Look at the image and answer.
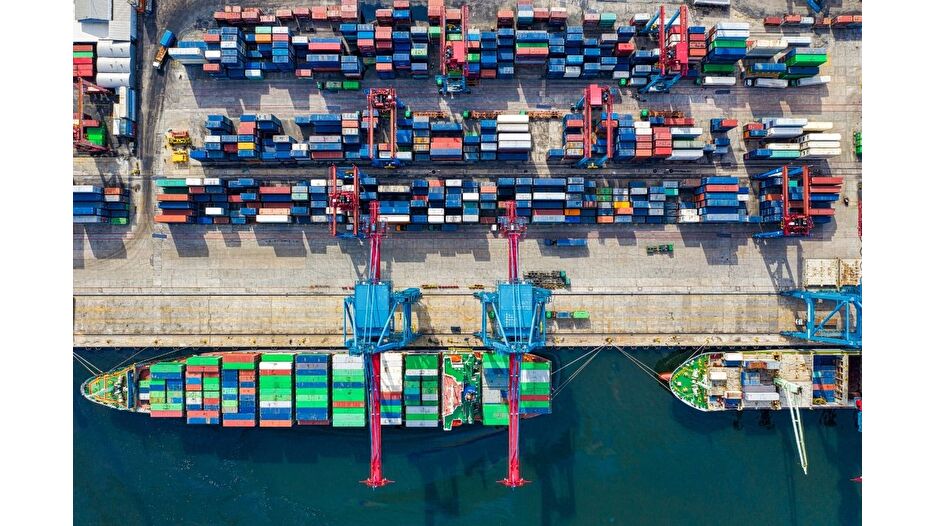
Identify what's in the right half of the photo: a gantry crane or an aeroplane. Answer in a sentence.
Visible in the right half of the photo is a gantry crane.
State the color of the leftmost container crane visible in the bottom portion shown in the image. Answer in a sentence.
In this view, the leftmost container crane visible in the bottom portion is blue.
